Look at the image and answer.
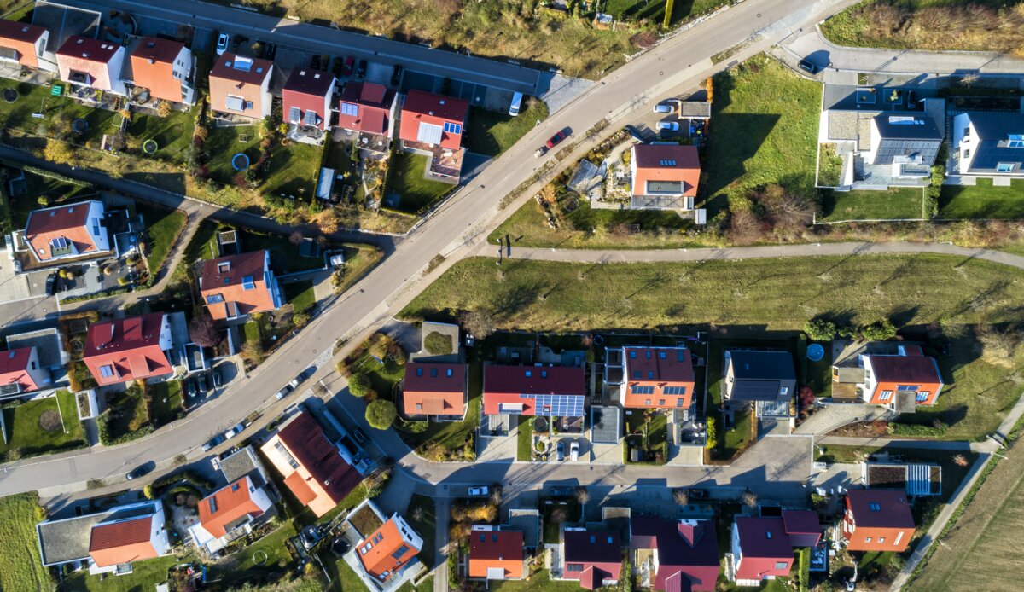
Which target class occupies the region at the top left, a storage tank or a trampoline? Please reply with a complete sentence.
There is a trampoline at the top left.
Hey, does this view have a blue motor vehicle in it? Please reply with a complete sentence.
Yes, I can see a blue motor vehicle in this picture.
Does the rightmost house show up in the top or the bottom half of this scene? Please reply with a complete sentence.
Seen from above, the rightmost house lies in the top half of the view.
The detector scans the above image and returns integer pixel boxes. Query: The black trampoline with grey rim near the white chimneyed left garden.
[2,87,19,103]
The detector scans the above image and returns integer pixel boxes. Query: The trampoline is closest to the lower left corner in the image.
[331,537,350,556]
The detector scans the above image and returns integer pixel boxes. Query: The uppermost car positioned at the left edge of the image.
[45,271,60,296]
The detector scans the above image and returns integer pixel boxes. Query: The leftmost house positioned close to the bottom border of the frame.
[37,496,169,575]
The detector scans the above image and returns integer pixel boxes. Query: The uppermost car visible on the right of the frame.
[795,58,818,75]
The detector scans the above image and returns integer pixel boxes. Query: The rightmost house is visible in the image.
[944,112,1024,176]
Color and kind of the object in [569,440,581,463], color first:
white vehicle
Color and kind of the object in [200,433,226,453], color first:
blue car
